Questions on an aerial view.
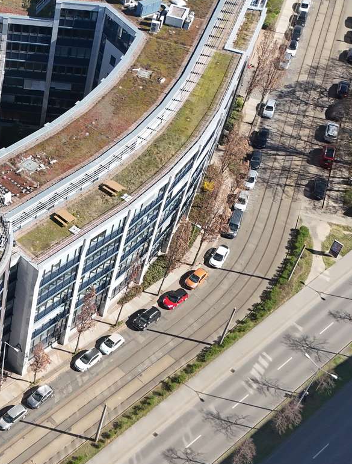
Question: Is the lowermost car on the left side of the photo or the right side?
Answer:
left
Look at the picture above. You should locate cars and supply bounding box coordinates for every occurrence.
[322,143,338,164]
[335,81,351,99]
[225,209,245,235]
[253,126,270,149]
[324,122,341,142]
[244,169,261,191]
[131,304,164,331]
[344,48,352,63]
[299,0,311,11]
[184,266,210,291]
[208,243,232,270]
[291,23,305,39]
[234,189,252,212]
[71,347,103,374]
[294,8,308,25]
[98,331,126,357]
[313,177,331,200]
[0,402,30,434]
[248,150,264,171]
[161,287,186,312]
[23,383,55,411]
[262,98,278,119]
